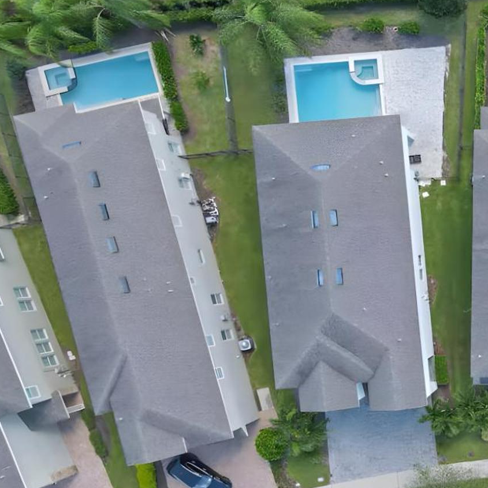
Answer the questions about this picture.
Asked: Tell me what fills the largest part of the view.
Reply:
buildings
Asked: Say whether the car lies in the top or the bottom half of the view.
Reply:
bottom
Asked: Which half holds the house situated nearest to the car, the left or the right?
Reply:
left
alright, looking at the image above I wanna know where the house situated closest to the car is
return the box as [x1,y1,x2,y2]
[12,96,261,465]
